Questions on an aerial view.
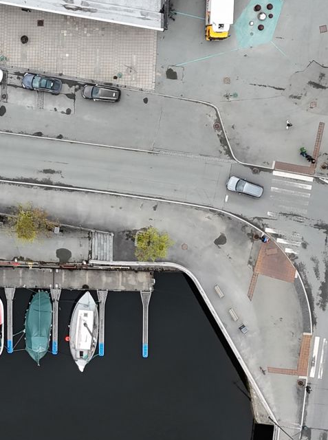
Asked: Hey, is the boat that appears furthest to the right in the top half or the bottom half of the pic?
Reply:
bottom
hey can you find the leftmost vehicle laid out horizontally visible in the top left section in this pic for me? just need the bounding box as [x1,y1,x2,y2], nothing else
[20,73,62,95]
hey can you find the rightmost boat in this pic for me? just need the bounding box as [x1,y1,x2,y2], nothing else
[63,292,99,372]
